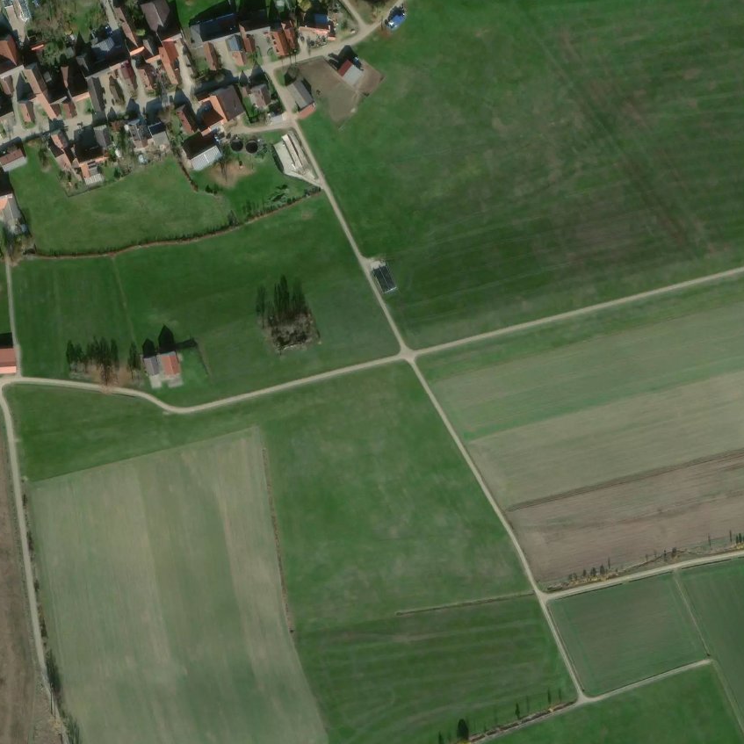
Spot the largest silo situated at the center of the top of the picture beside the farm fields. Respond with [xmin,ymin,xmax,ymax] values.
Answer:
[273,134,325,187]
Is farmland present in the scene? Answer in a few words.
Yes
